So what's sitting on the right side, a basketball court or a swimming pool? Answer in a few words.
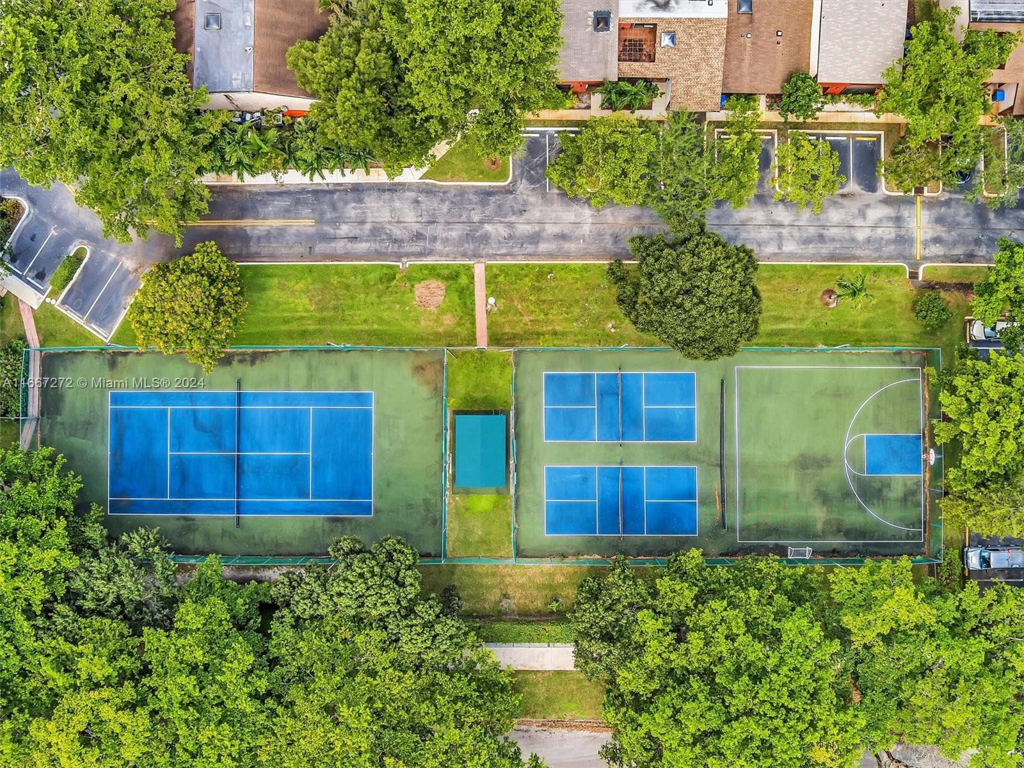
basketball court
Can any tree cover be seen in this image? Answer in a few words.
Yes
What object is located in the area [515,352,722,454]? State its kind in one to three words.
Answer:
sports court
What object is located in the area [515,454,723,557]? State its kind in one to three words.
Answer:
sports court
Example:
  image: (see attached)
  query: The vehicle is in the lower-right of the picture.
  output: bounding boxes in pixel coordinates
[967,546,1024,573]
